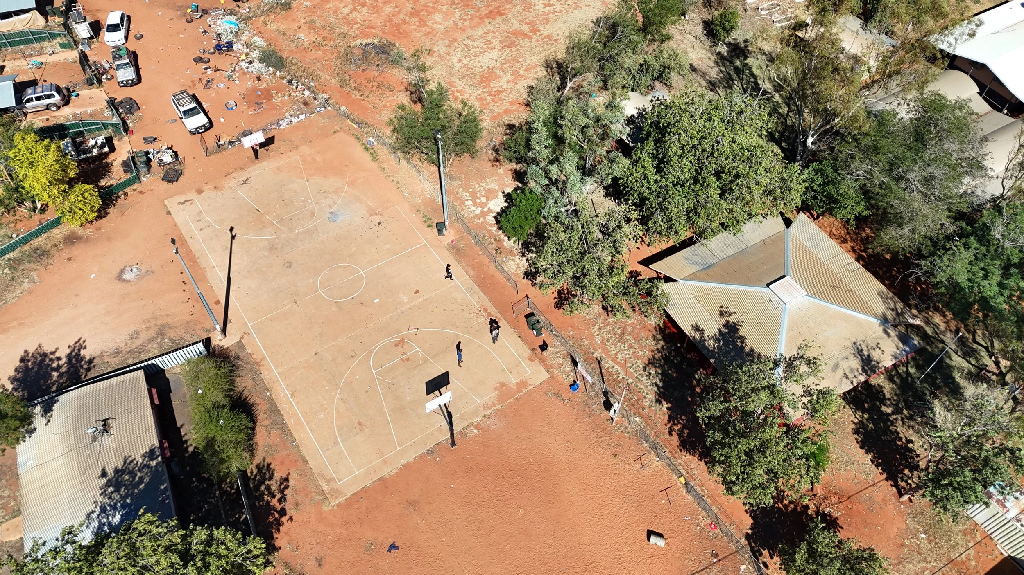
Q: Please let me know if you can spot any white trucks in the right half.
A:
No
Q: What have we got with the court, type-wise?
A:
basketball court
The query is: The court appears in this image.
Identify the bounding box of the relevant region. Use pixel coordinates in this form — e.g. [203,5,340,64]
[165,132,553,505]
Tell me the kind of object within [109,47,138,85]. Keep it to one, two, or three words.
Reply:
truck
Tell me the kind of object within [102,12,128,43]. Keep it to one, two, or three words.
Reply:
car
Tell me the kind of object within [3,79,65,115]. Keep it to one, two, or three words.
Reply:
car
